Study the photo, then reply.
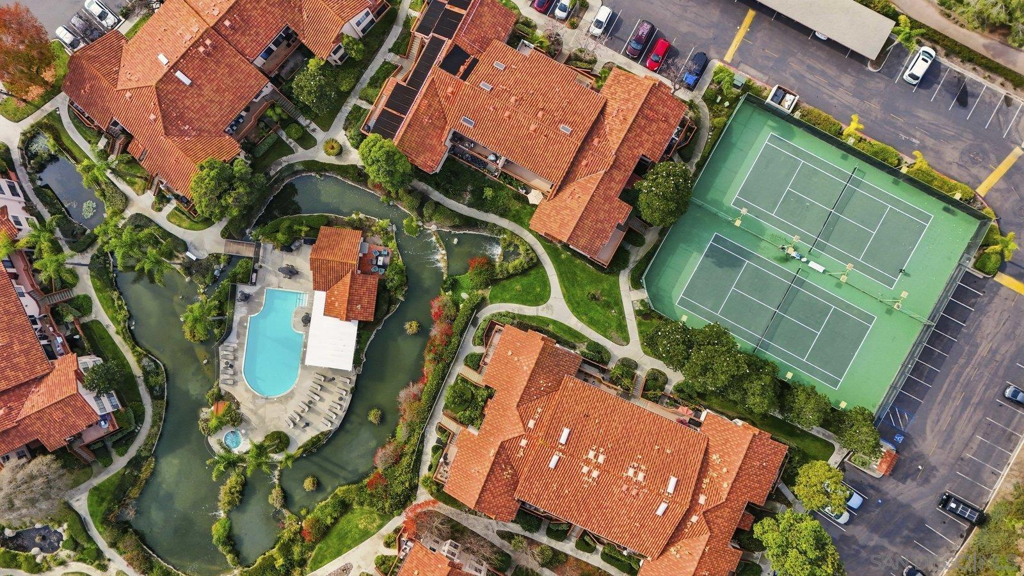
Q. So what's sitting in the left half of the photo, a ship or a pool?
pool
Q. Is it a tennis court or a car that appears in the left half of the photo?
car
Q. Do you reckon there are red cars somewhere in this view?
Yes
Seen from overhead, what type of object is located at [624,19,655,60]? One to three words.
car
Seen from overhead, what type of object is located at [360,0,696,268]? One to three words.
building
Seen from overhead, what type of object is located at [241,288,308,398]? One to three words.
swimming pool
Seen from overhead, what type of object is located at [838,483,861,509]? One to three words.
car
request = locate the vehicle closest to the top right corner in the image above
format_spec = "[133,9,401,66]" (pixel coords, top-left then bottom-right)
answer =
[902,47,934,87]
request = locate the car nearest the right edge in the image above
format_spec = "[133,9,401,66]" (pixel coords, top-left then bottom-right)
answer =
[1000,384,1024,408]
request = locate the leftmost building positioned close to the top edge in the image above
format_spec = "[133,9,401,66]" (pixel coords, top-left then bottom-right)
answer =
[60,0,375,217]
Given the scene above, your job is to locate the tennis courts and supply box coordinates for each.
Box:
[693,101,980,319]
[647,197,925,418]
